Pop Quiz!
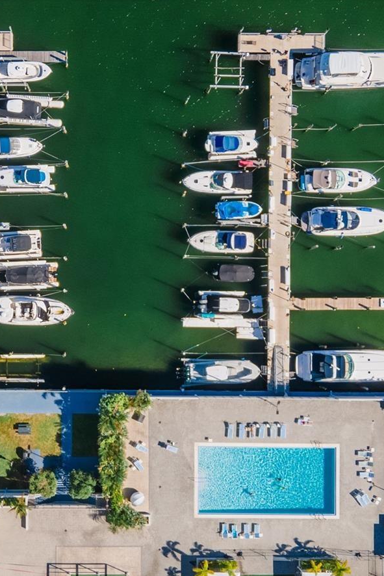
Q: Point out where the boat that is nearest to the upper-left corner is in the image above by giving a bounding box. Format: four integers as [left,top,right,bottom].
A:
[0,62,52,83]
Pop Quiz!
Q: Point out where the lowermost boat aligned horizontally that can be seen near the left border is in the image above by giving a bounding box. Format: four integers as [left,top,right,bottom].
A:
[0,296,76,326]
